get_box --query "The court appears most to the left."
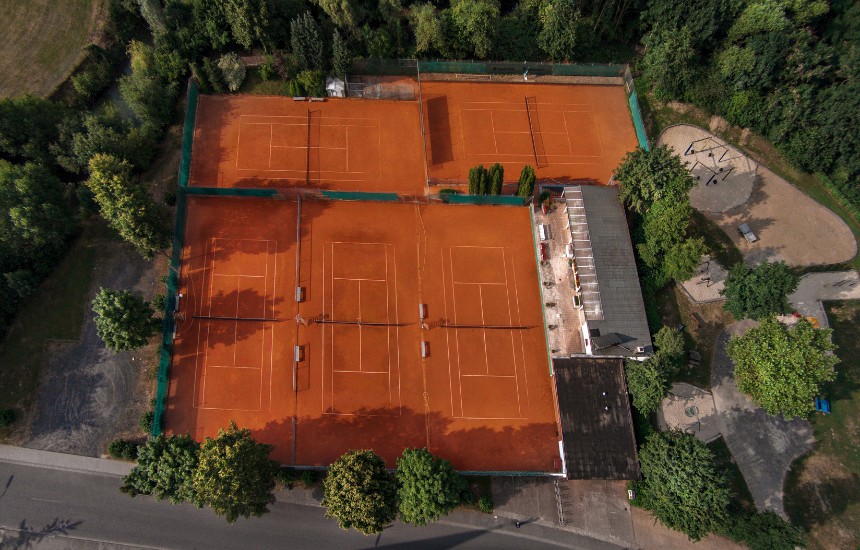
[164,197,298,467]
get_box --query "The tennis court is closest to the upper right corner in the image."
[421,82,642,207]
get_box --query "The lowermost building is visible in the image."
[550,354,642,480]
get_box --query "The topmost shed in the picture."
[323,73,344,98]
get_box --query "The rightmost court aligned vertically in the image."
[418,203,562,474]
